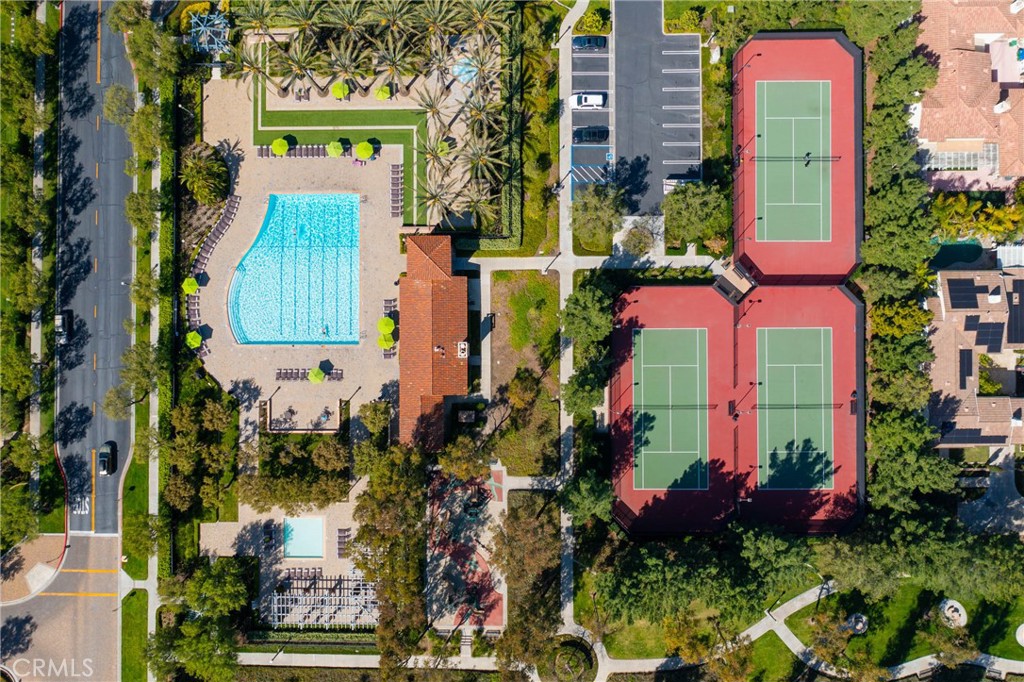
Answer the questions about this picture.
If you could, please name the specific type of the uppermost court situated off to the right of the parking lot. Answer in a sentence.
The uppermost court situated off to the right of the parking lot appears to be a tennis court.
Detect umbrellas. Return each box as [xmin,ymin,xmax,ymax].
[378,334,395,349]
[183,278,199,295]
[378,317,394,333]
[375,85,391,101]
[273,139,289,155]
[186,330,203,347]
[357,143,373,159]
[435,142,452,157]
[328,142,344,158]
[309,368,326,384]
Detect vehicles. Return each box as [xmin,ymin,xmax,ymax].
[573,35,607,52]
[568,93,603,111]
[572,127,608,144]
[96,443,115,476]
[52,312,72,344]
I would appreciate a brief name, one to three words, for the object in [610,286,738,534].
tennis court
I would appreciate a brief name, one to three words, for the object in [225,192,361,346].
swimming pool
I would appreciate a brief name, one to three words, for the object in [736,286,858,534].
tennis court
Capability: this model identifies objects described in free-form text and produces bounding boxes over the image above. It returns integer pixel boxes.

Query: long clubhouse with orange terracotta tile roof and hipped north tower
[399,235,467,451]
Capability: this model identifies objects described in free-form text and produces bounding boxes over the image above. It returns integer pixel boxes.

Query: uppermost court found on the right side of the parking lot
[733,39,856,283]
